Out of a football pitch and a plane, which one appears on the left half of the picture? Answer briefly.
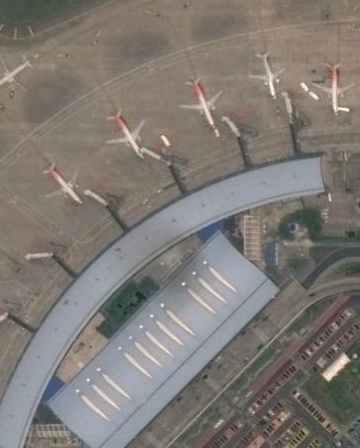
plane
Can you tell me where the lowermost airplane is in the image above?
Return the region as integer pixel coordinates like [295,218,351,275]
[43,160,84,204]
